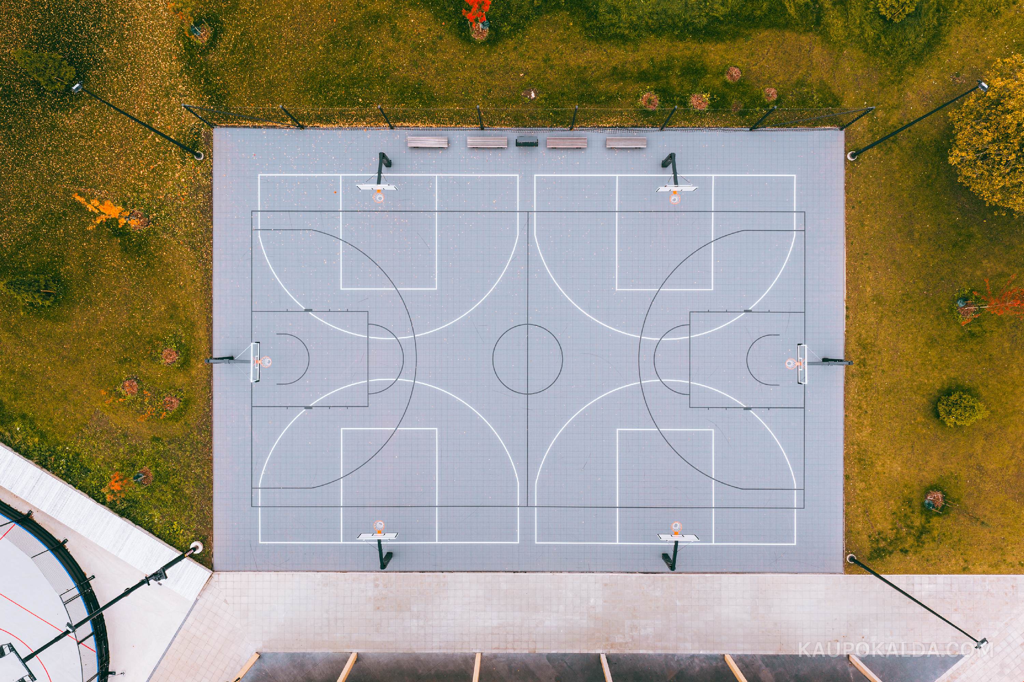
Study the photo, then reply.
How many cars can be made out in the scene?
0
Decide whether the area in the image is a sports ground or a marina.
sports ground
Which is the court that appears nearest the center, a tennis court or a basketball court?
basketball court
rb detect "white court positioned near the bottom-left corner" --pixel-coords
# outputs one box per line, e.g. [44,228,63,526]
[0,501,116,682]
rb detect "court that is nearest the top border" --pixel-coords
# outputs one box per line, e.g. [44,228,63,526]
[211,126,846,574]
